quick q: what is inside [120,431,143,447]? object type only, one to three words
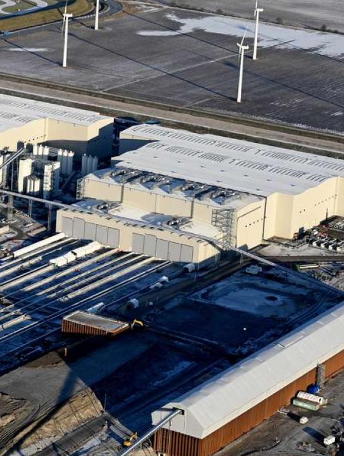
work vehicle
